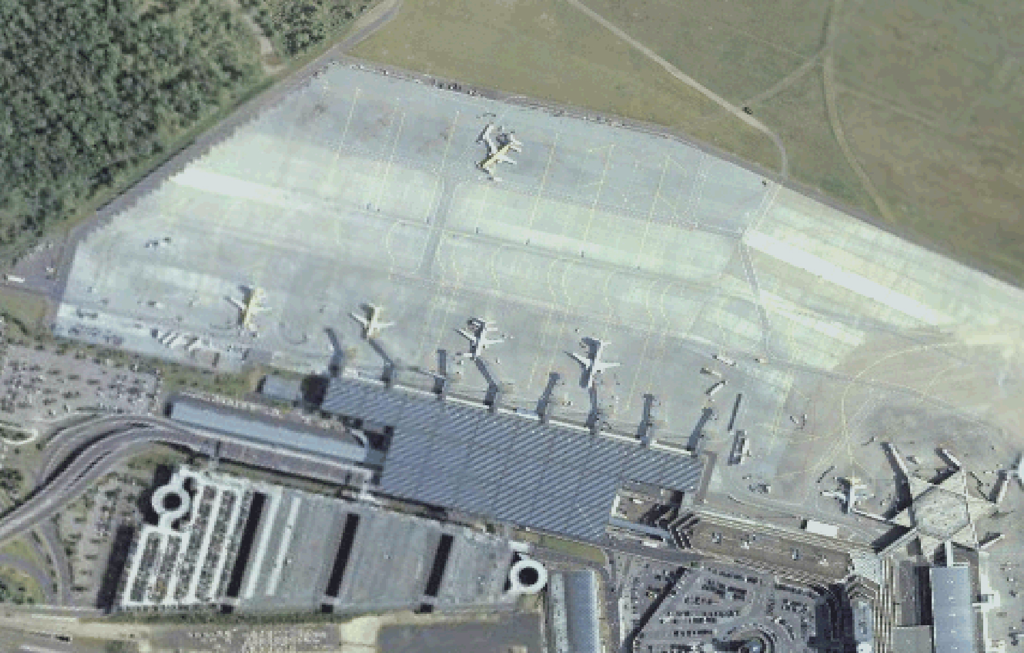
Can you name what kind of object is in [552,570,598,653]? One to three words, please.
hangar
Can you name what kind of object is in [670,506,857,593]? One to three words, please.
building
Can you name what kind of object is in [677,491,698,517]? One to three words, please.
building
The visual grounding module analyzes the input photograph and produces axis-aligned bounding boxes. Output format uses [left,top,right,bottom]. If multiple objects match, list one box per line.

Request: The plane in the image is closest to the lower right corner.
[828,473,877,515]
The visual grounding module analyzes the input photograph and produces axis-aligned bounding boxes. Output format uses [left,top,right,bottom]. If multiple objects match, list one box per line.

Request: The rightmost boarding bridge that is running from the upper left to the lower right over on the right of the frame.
[940,448,966,471]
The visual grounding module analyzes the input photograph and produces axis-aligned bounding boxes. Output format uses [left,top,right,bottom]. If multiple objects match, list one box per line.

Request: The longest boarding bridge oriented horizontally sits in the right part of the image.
[852,508,895,522]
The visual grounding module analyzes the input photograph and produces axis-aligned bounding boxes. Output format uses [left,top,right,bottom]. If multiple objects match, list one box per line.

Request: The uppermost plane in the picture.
[480,133,520,169]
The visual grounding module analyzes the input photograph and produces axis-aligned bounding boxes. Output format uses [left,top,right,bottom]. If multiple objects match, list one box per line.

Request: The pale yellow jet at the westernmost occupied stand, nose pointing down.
[234,284,275,329]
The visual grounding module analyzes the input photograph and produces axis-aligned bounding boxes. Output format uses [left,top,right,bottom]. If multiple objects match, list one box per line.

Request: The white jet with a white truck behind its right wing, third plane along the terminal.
[462,316,505,358]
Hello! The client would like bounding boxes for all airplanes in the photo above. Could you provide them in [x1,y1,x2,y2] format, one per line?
[575,337,621,390]
[234,284,275,329]
[462,316,505,358]
[828,473,877,515]
[480,133,520,169]
[356,301,396,338]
